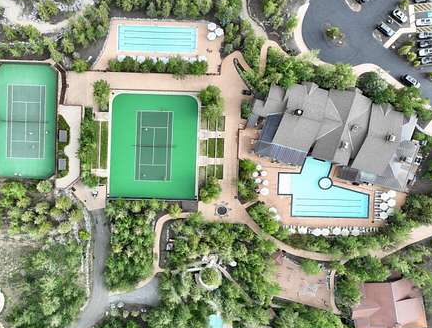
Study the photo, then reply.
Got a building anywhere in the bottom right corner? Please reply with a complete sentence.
Yes, a building shows up in the bottom right corner.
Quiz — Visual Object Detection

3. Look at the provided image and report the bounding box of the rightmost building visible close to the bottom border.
[350,276,427,328]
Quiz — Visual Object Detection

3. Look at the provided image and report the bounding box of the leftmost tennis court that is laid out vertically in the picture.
[0,61,57,179]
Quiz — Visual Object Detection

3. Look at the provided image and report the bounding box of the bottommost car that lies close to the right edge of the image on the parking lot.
[402,73,419,88]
